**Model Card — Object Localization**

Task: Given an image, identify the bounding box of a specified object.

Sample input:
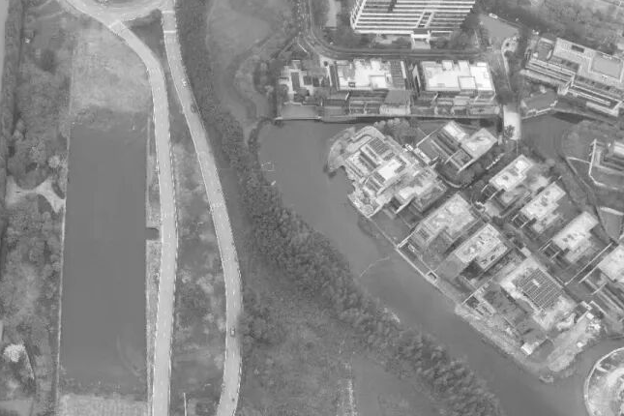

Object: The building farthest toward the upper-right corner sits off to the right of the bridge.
[519,39,624,118]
